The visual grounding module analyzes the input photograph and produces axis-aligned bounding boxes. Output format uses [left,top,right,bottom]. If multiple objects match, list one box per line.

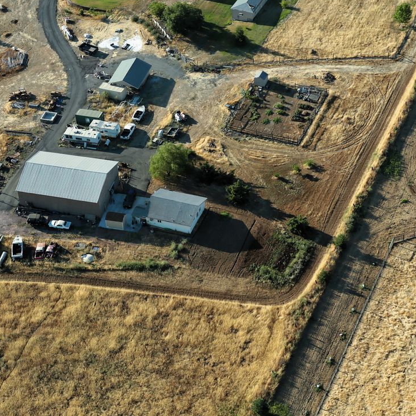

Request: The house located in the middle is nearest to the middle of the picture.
[147,189,207,235]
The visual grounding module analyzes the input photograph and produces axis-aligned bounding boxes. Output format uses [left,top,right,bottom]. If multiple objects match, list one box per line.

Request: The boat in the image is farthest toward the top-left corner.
[129,102,145,121]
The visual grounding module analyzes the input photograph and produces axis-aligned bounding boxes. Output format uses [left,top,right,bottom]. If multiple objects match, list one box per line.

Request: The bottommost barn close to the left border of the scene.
[15,150,118,217]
